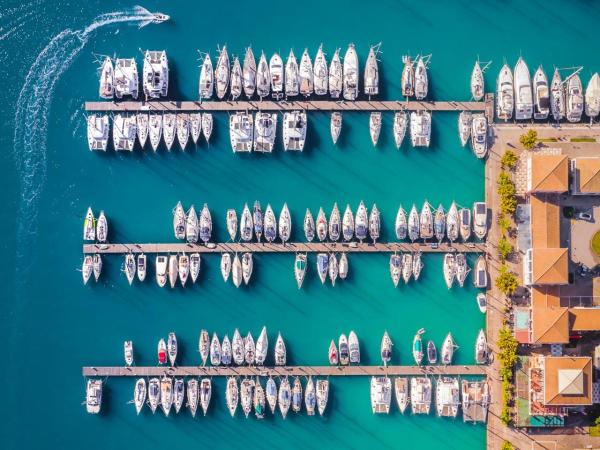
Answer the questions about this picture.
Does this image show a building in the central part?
No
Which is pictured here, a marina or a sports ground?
marina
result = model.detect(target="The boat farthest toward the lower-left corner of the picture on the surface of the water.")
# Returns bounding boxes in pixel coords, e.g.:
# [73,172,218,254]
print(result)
[87,374,104,414]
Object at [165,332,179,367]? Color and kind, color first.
white boat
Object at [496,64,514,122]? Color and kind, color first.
white boat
